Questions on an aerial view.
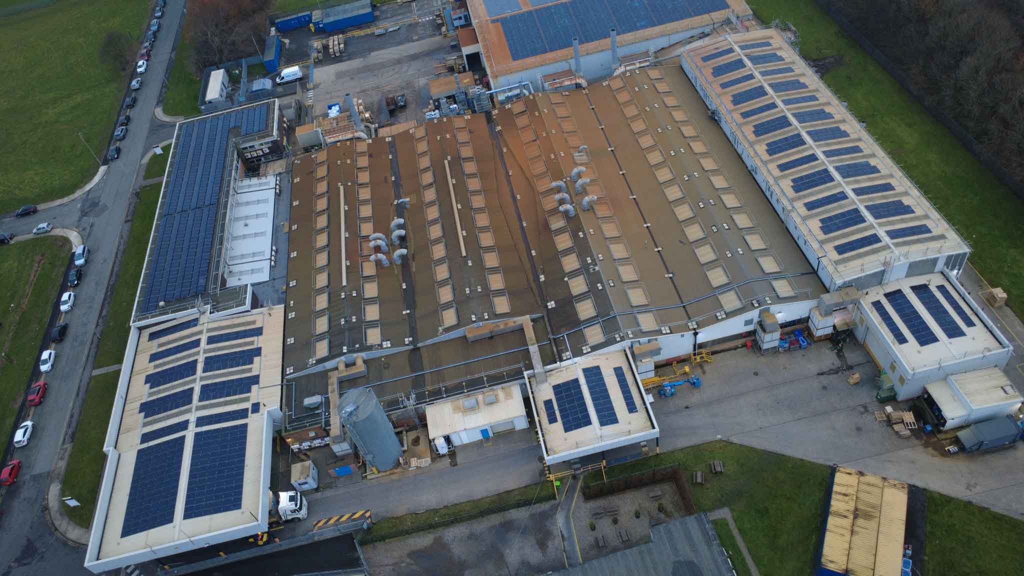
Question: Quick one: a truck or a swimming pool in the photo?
truck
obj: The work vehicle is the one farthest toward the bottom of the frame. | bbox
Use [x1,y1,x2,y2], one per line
[246,531,267,547]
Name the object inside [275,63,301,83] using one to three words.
vehicle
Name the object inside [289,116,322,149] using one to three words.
house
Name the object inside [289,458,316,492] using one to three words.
building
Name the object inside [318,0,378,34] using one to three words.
shipping container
